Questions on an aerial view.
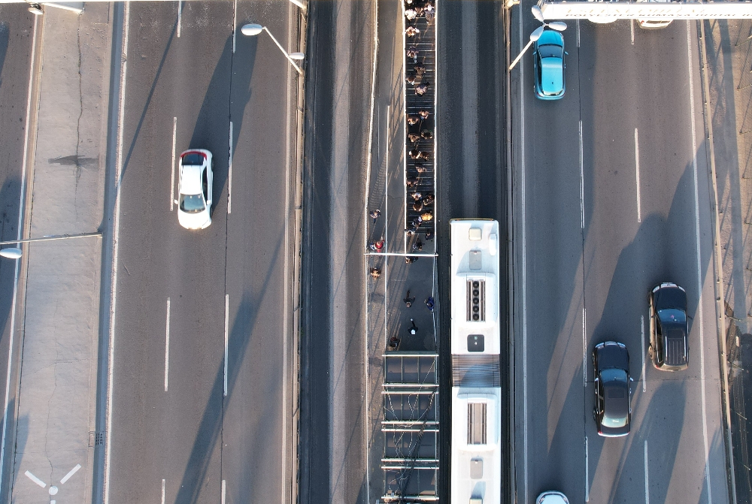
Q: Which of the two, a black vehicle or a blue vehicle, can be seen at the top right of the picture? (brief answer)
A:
blue vehicle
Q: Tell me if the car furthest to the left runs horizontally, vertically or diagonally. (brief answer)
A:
vertically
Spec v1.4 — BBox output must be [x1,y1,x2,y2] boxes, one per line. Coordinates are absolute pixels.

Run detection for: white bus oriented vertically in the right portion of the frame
[446,220,501,504]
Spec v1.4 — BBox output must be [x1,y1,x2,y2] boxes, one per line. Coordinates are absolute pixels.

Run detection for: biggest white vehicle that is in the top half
[172,149,214,228]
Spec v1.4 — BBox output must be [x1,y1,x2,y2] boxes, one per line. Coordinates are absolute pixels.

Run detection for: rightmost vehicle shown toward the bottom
[647,284,692,369]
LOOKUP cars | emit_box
[637,16,672,27]
[592,343,634,436]
[531,33,570,99]
[172,149,214,228]
[647,284,692,369]
[533,491,570,504]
